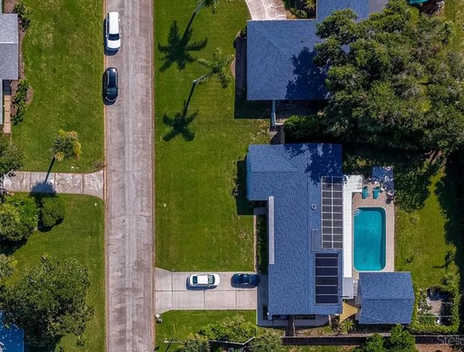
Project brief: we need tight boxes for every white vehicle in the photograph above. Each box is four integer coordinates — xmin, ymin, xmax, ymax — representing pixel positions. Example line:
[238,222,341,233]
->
[186,273,219,288]
[104,13,121,52]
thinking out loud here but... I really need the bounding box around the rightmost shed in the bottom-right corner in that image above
[352,272,415,324]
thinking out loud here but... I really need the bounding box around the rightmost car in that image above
[230,272,259,287]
